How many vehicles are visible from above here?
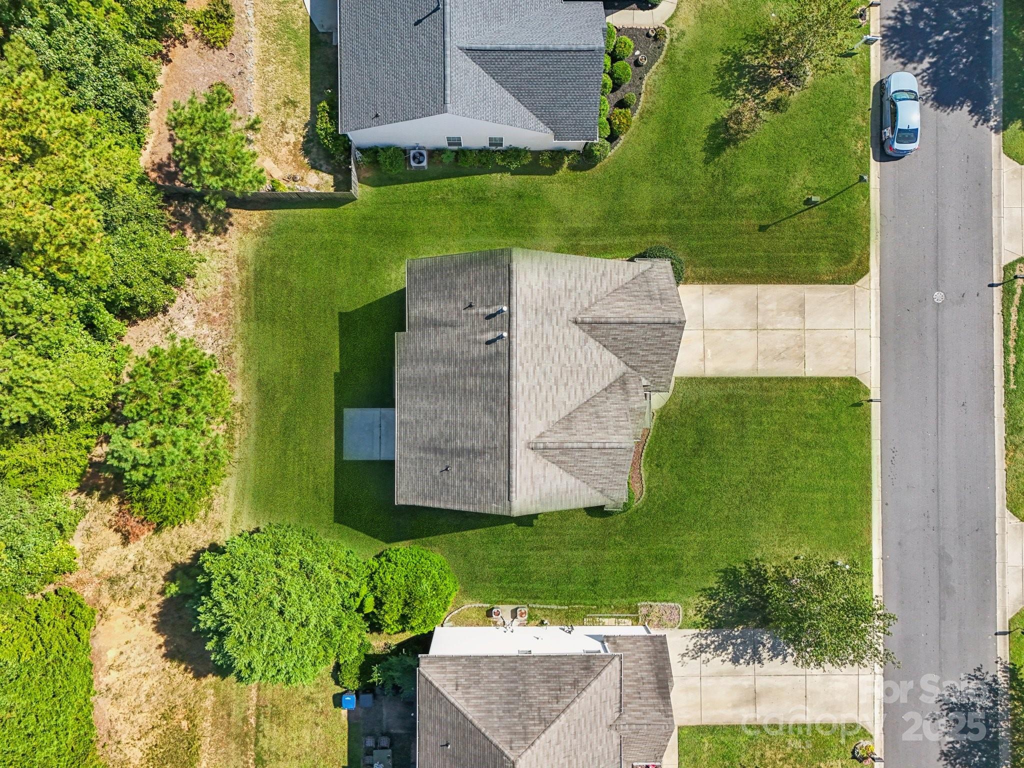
1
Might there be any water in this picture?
No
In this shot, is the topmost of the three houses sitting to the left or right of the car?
on its left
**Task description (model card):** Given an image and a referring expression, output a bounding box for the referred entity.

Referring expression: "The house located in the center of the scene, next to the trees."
[394,248,685,517]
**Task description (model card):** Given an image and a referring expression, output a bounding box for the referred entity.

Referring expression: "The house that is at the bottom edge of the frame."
[415,624,675,768]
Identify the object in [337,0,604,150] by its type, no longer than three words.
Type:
house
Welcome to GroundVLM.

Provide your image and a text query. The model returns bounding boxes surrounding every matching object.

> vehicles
[881,70,928,158]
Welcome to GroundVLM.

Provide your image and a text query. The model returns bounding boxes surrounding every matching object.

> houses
[394,248,685,517]
[415,624,675,768]
[337,0,604,150]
